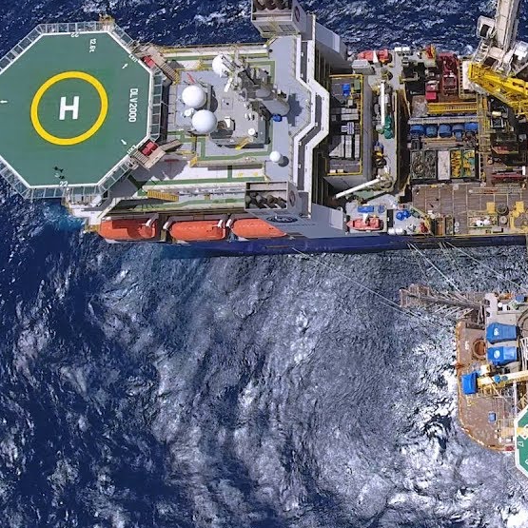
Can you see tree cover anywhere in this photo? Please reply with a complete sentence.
No, tree cover can't be seen anywhere here.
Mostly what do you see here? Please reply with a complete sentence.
The largest share of the image is taken up by water.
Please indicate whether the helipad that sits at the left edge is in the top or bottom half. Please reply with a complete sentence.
You can find the helipad that sits at the left edge in the top half.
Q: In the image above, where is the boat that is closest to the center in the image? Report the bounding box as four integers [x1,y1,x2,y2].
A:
[230,210,284,240]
